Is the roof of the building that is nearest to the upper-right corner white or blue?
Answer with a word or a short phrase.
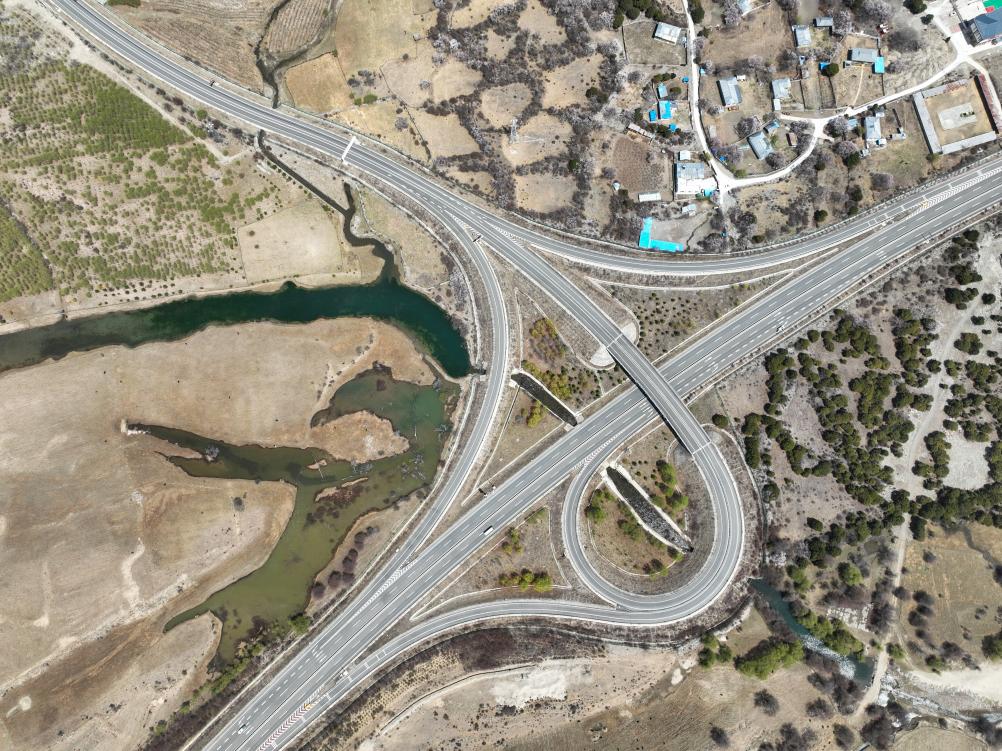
blue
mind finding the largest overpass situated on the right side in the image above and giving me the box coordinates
[607,333,710,455]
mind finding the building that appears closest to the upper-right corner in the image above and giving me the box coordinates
[957,7,1002,47]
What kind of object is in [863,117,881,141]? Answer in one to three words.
house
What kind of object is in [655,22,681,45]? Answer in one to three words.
house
